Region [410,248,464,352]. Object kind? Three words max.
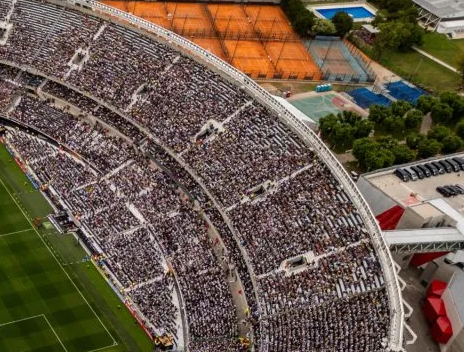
building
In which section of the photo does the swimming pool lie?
top right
